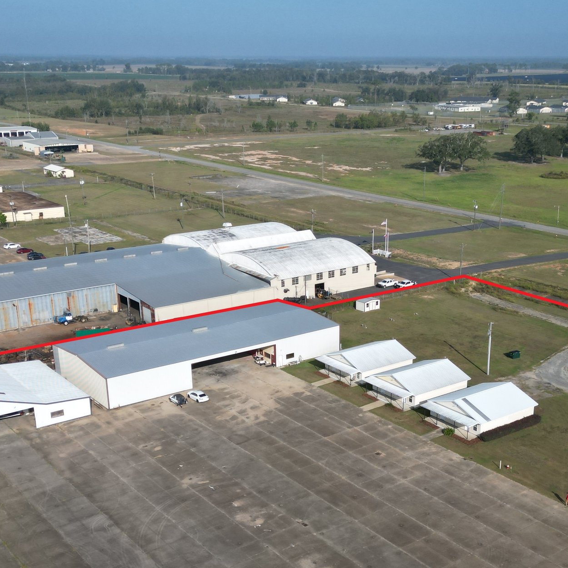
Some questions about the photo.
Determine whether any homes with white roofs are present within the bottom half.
Yes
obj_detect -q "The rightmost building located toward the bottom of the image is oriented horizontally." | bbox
[417,381,536,440]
